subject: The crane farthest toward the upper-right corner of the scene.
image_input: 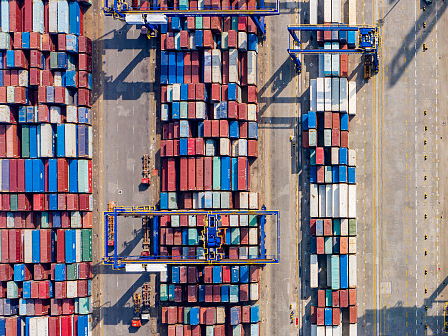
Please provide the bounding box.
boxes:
[288,24,382,77]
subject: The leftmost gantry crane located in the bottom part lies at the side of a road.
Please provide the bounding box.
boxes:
[102,202,281,275]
